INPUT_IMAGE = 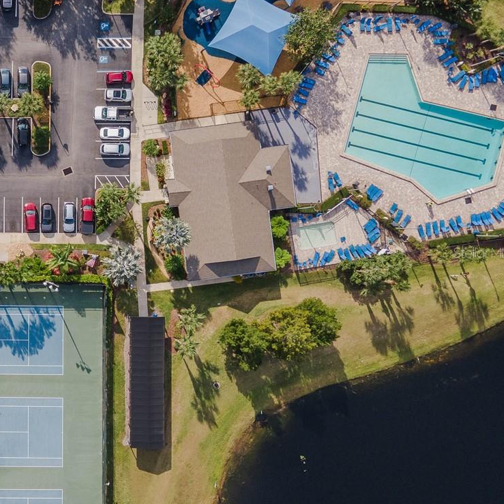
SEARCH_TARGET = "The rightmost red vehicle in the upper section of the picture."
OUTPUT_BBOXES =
[104,71,133,85]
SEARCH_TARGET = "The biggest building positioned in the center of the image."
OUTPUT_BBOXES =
[166,120,296,281]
